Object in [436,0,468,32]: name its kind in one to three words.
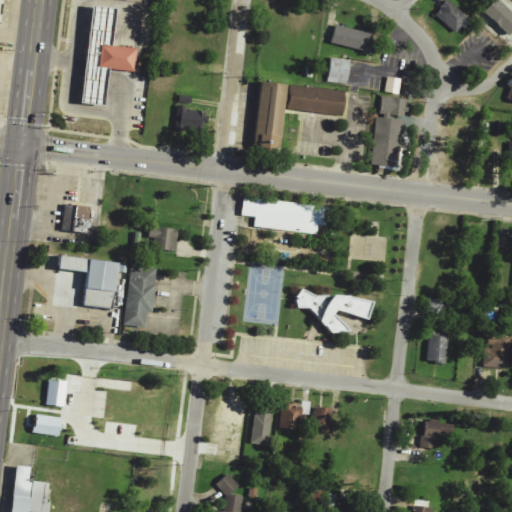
house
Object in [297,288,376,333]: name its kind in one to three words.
building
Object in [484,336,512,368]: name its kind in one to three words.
house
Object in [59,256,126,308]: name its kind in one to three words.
building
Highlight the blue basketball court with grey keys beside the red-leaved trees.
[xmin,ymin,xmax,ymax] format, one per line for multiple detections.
[242,266,285,324]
